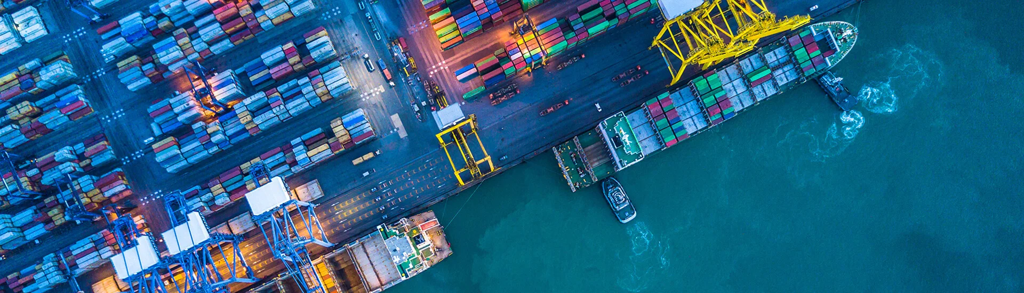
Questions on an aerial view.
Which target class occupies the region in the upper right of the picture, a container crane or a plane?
container crane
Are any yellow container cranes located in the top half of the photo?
Yes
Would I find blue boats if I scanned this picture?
Yes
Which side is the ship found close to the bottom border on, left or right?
left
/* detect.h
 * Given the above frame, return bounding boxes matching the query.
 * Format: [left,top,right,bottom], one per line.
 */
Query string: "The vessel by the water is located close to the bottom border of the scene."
[244,211,453,293]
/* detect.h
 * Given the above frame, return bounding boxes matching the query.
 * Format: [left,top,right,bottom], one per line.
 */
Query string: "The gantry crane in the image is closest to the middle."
[430,85,499,186]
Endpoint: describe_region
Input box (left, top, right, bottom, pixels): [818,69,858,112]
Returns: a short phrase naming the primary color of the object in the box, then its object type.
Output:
blue boat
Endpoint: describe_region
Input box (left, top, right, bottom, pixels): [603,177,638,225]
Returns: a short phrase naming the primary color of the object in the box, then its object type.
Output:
blue boat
